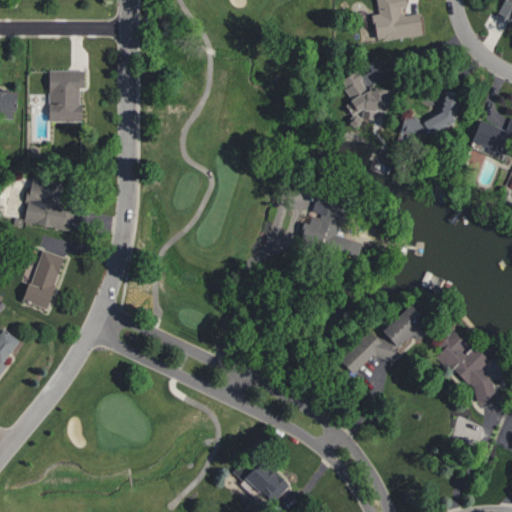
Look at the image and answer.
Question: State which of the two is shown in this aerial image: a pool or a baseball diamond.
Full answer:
I can see a pool in this picture.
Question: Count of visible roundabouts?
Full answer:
The picture shows no roundabouts.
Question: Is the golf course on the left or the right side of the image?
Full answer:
You can find the golf course on the left side of the picture.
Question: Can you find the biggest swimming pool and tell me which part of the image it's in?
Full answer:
The biggest swimming pool appears toward the top left of the photo.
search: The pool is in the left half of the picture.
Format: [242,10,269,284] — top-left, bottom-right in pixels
[30,94,50,144]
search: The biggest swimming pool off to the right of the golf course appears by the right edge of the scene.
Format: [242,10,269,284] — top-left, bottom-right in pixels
[476,154,500,190]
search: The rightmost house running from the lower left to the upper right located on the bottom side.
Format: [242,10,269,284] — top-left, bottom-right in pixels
[345,308,419,373]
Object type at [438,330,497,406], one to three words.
house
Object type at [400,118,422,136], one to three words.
house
